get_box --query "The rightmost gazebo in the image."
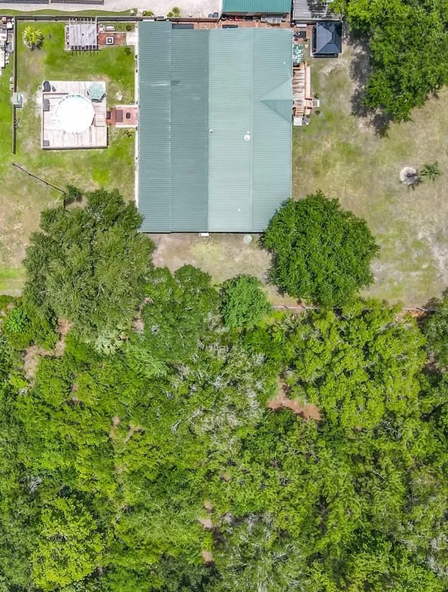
[310,22,342,58]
